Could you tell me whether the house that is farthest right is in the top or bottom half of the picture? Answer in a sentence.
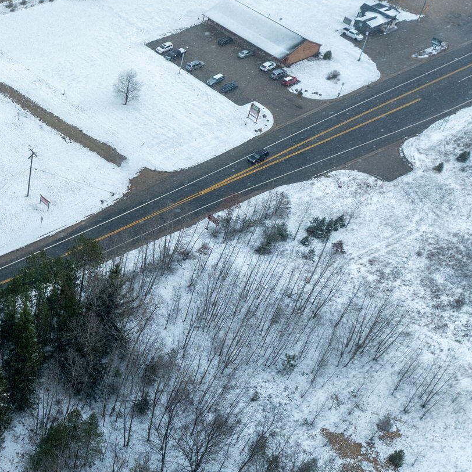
You can find the house that is farthest right in the top half.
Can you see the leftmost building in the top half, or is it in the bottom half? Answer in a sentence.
You can find the leftmost building in the top half.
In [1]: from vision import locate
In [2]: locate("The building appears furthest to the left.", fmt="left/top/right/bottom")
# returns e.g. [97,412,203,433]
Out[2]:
[203,0,324,66]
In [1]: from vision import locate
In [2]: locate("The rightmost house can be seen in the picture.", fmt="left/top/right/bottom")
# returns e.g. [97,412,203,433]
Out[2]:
[353,0,408,38]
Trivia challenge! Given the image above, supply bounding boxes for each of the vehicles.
[222,83,239,93]
[217,35,235,47]
[281,76,299,85]
[238,50,255,59]
[166,49,186,60]
[260,62,277,70]
[271,69,288,79]
[156,41,173,52]
[250,149,270,163]
[343,28,364,40]
[208,73,226,84]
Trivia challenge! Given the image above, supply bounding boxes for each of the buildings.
[353,0,408,38]
[203,0,324,66]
